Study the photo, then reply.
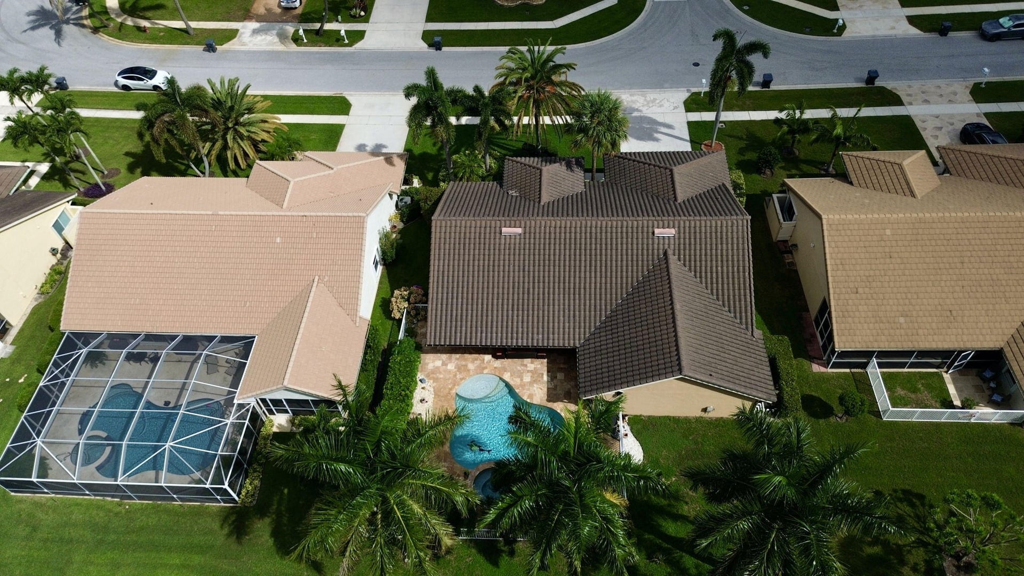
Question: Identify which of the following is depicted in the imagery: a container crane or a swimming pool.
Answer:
swimming pool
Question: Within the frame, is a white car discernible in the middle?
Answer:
No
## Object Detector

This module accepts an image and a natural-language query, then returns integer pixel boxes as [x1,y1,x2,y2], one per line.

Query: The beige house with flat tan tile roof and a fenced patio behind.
[754,144,1024,442]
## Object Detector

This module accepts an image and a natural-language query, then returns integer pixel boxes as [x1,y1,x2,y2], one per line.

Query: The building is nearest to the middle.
[427,151,776,417]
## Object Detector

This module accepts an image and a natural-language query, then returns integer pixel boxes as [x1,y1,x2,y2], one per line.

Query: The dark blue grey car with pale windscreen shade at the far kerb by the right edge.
[980,12,1024,40]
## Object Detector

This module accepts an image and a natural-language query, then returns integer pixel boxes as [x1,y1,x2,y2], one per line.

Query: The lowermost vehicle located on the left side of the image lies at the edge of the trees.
[114,64,174,90]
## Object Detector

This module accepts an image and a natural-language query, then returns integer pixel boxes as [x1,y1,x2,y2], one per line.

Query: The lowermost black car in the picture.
[974,117,1022,145]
